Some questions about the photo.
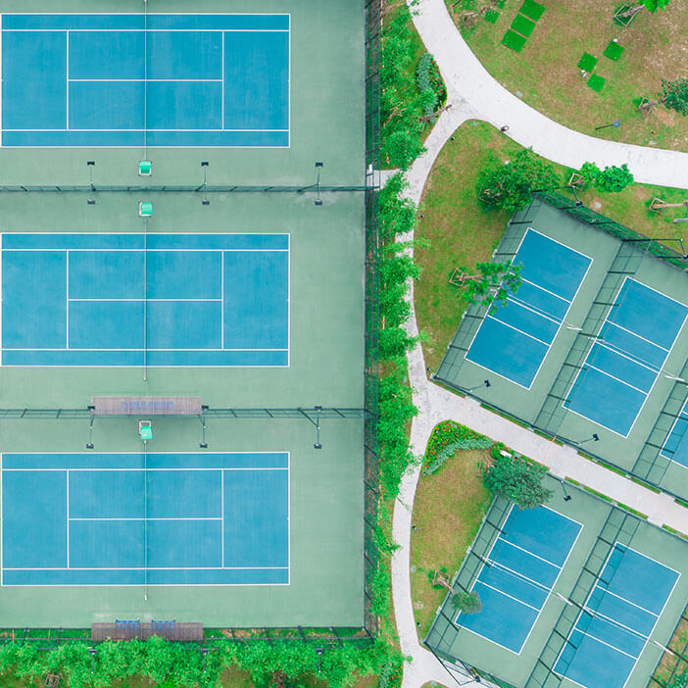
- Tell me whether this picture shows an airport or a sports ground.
sports ground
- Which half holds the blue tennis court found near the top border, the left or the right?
left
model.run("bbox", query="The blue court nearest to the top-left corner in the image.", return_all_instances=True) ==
[0,11,291,148]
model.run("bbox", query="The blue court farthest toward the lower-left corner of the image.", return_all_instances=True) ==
[0,453,291,587]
